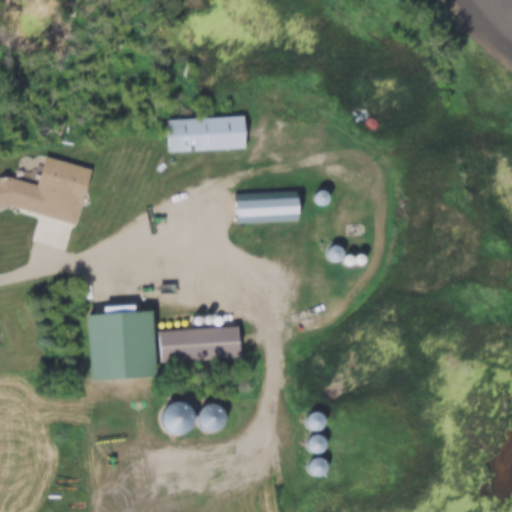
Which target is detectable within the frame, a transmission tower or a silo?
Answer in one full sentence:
Looking from above, you can make out a silo.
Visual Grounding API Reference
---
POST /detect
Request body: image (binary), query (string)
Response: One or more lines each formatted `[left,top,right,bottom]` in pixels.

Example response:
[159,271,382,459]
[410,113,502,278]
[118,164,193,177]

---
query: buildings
[167,116,247,153]
[88,312,156,380]
[159,326,242,362]
[235,191,300,224]
[0,156,92,225]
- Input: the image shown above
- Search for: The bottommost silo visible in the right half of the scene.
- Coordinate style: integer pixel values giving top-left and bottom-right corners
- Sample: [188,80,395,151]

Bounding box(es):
[305,456,329,478]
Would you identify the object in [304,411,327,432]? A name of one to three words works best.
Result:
silo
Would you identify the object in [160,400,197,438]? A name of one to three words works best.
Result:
silo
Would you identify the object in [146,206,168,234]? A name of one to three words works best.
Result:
work vehicle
